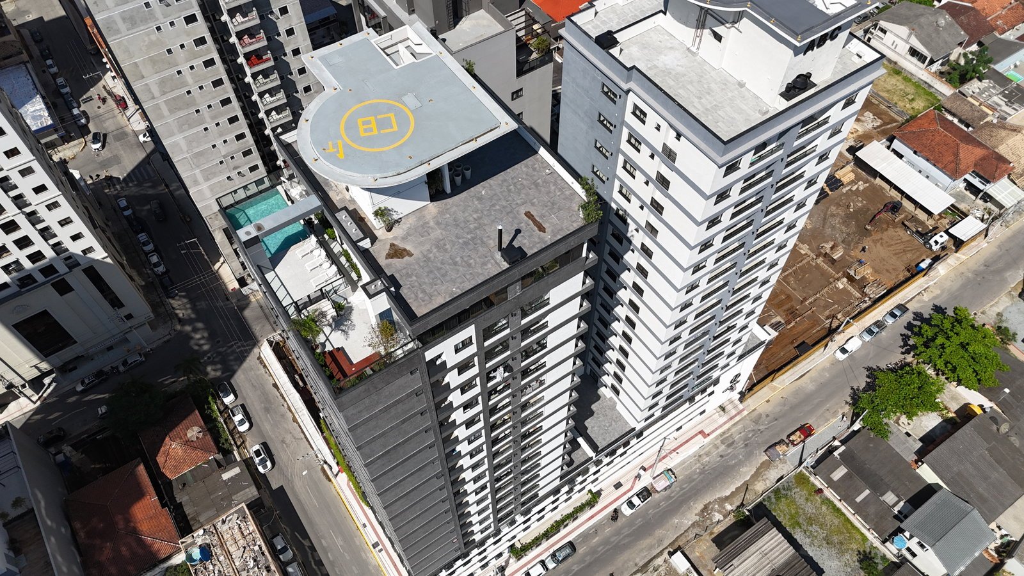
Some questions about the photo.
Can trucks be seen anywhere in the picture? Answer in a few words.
Yes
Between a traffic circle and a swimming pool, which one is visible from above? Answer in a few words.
swimming pool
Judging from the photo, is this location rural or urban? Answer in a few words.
urban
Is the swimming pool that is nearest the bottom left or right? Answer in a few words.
left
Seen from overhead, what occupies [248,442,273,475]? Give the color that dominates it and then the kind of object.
white car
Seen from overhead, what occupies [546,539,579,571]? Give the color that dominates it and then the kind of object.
gray car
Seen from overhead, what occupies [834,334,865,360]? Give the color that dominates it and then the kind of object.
white vehicle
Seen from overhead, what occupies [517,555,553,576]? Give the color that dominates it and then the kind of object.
white car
